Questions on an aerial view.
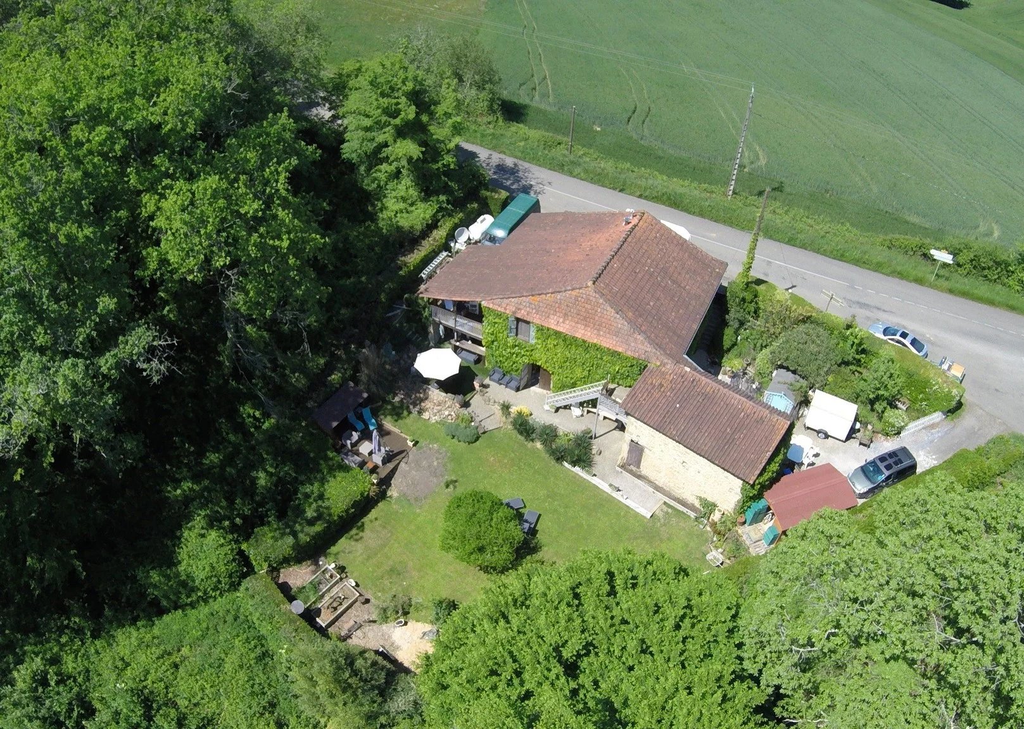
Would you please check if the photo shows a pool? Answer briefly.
No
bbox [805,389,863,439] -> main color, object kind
white trailer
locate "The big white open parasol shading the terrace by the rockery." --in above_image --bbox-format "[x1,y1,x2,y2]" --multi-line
[414,350,461,398]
